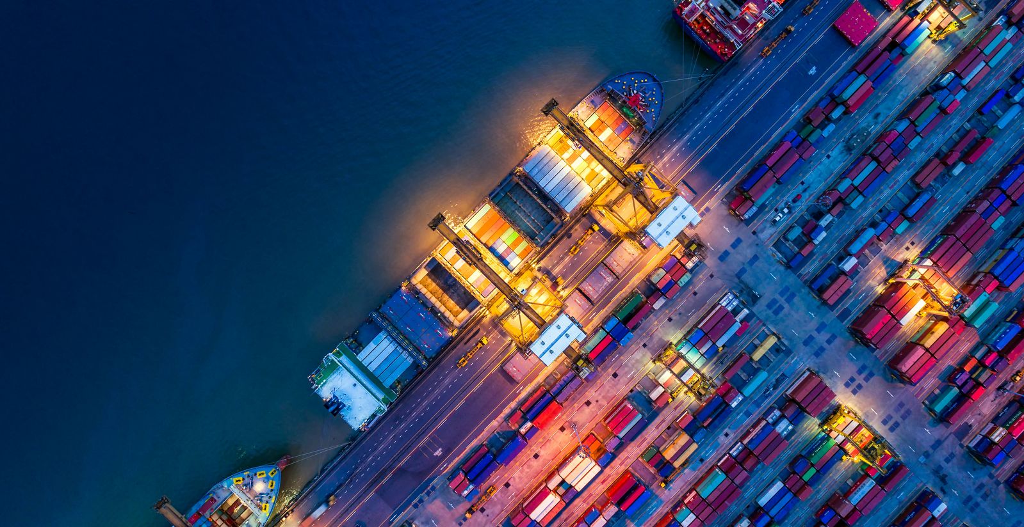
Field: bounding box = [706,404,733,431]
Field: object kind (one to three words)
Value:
shipping container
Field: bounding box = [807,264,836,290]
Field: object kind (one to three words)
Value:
shipping container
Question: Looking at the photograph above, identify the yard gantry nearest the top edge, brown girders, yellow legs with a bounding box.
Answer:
[896,0,983,47]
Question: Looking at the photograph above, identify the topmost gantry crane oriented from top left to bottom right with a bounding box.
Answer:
[541,92,714,266]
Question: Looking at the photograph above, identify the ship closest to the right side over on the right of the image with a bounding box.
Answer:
[673,0,787,62]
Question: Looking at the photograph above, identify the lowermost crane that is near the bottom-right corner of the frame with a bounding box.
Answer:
[817,404,899,474]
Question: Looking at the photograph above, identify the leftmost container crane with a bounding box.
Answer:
[155,493,205,527]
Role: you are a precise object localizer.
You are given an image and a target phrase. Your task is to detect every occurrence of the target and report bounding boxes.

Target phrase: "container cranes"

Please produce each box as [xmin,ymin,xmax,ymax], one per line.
[541,92,714,266]
[425,211,599,382]
[896,0,983,47]
[155,493,205,527]
[817,404,899,474]
[651,340,720,405]
[906,265,972,319]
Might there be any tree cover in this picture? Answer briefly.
No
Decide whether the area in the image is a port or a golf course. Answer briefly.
port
